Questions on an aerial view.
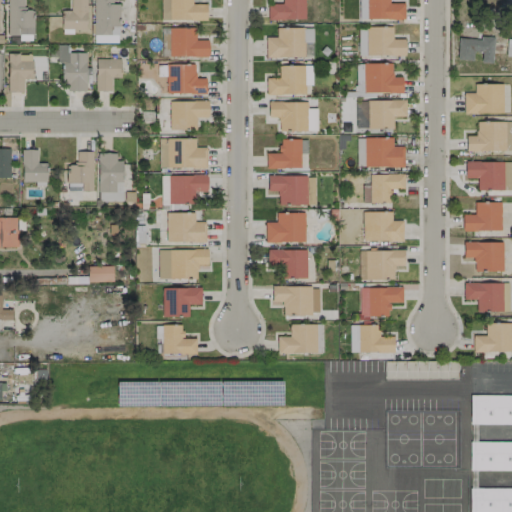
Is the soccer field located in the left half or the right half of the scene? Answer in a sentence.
The soccer field sits on the left side.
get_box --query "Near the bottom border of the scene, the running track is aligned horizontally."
[0,407,306,512]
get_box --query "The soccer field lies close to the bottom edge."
[0,418,296,512]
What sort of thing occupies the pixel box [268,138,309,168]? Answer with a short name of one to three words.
house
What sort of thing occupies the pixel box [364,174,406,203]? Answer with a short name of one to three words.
house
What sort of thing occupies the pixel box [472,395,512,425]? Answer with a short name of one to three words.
building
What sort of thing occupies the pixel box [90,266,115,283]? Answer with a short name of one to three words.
barn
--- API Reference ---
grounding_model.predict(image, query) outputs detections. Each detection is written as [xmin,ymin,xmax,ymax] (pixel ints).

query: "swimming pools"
[150,38,163,53]
[316,222,332,242]
[28,189,43,198]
